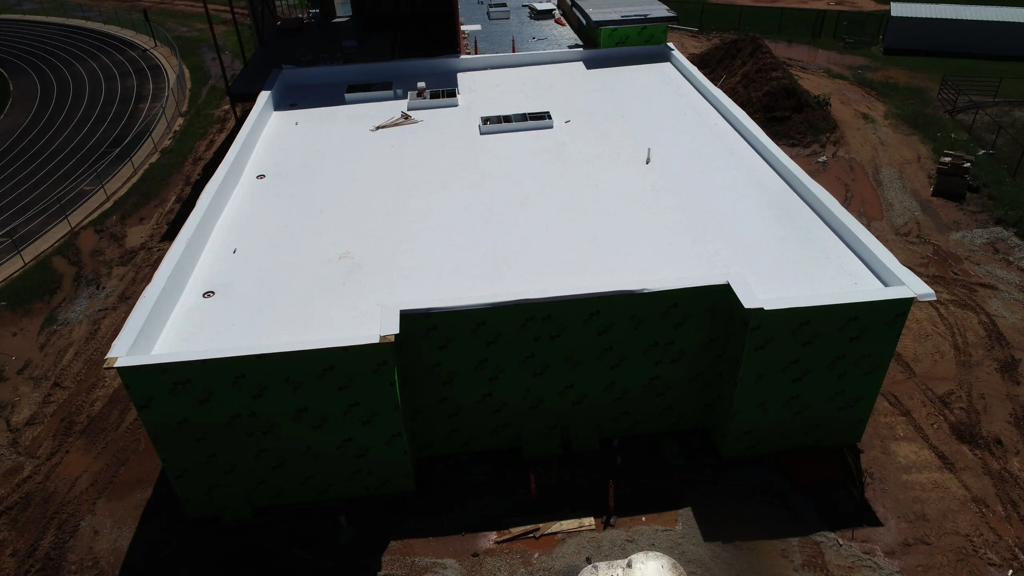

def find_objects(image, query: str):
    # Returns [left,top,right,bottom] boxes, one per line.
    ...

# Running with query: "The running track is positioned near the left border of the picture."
[0,18,171,256]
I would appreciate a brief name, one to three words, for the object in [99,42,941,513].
building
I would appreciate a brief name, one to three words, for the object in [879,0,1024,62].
shed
